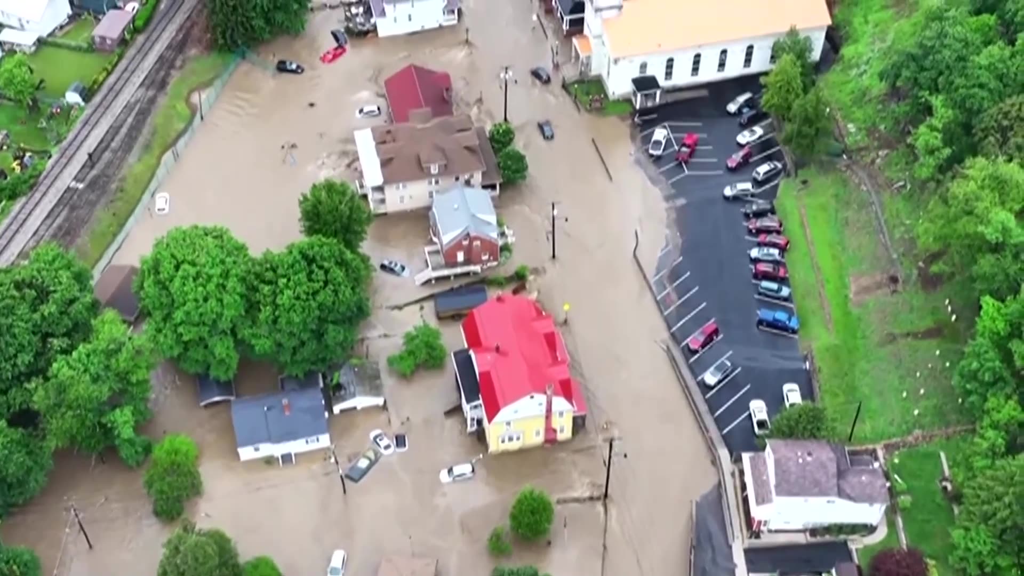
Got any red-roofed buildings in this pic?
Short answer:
Yes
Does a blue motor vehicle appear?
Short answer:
Yes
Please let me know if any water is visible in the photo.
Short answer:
Yes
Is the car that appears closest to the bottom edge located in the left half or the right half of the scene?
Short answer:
left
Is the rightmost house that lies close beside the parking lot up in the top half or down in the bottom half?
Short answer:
bottom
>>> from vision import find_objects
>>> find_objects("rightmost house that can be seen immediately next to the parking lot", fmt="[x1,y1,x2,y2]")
[744,444,889,532]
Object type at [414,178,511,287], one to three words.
house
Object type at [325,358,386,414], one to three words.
building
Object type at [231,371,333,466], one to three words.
house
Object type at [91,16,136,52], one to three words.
shed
